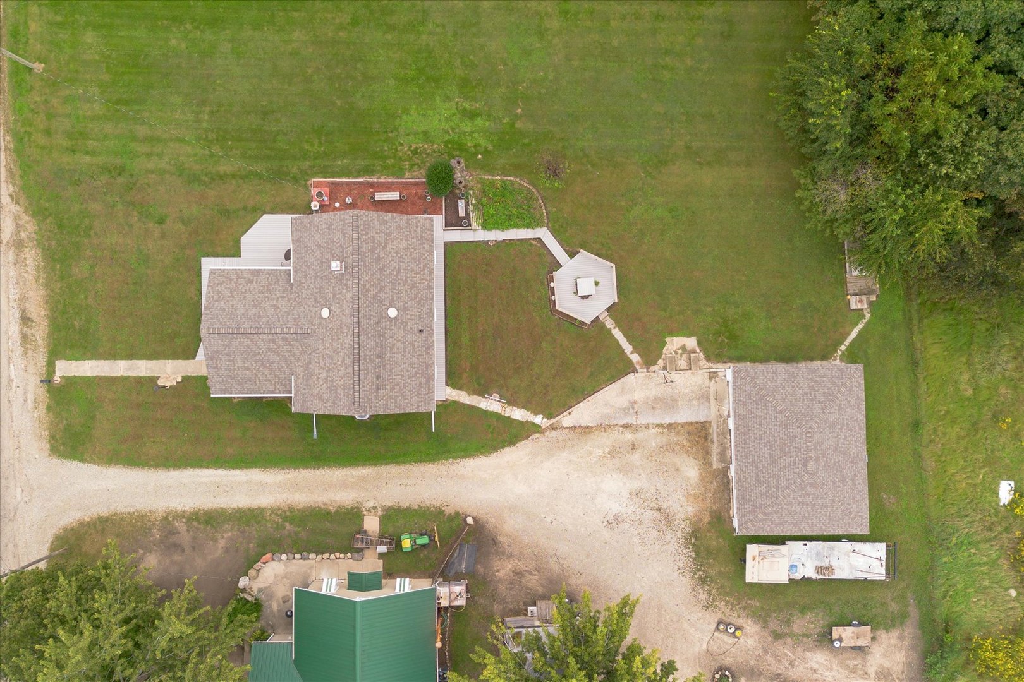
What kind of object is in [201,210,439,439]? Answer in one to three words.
house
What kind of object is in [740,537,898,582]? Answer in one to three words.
trailer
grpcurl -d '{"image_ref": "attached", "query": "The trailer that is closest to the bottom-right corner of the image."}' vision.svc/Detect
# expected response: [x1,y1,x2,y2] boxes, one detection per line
[815,623,871,650]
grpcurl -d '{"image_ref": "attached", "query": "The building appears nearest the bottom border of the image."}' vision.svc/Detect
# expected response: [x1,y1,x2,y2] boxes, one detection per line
[247,586,438,682]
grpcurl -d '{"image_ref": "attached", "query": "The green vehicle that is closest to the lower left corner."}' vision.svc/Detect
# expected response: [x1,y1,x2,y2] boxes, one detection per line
[400,529,440,554]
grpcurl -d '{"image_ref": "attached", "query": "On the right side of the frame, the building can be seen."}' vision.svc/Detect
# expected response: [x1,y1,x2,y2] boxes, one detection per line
[725,363,870,537]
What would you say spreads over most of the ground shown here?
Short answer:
grass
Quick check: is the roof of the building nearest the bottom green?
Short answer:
Yes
